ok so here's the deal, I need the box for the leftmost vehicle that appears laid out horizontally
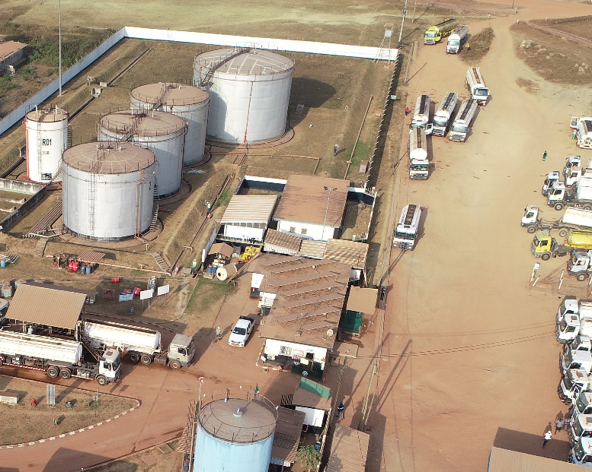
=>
[0,327,127,388]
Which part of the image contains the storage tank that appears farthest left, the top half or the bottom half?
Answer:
top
